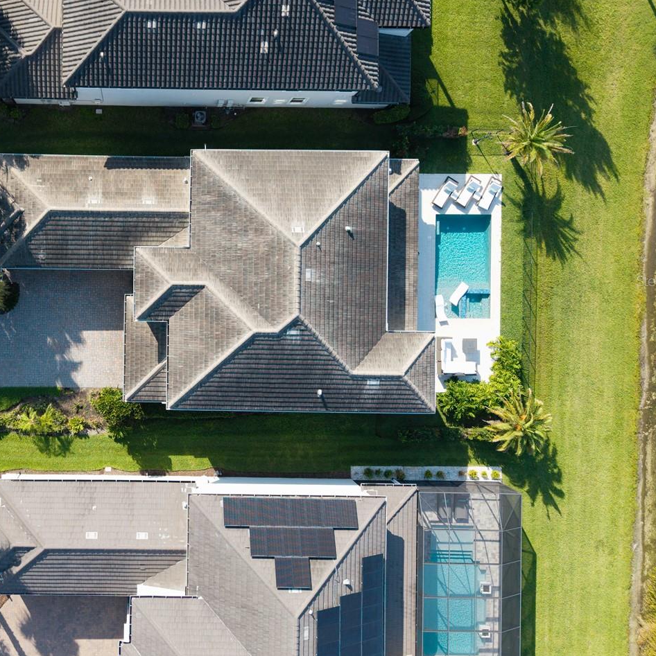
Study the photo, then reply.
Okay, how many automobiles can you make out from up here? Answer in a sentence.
There are no automobiles in the image.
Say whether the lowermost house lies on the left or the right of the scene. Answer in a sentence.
The lowermost house is on the left side of the image.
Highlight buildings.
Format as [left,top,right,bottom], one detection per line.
[0,144,437,415]
[0,0,433,109]
[0,475,419,656]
